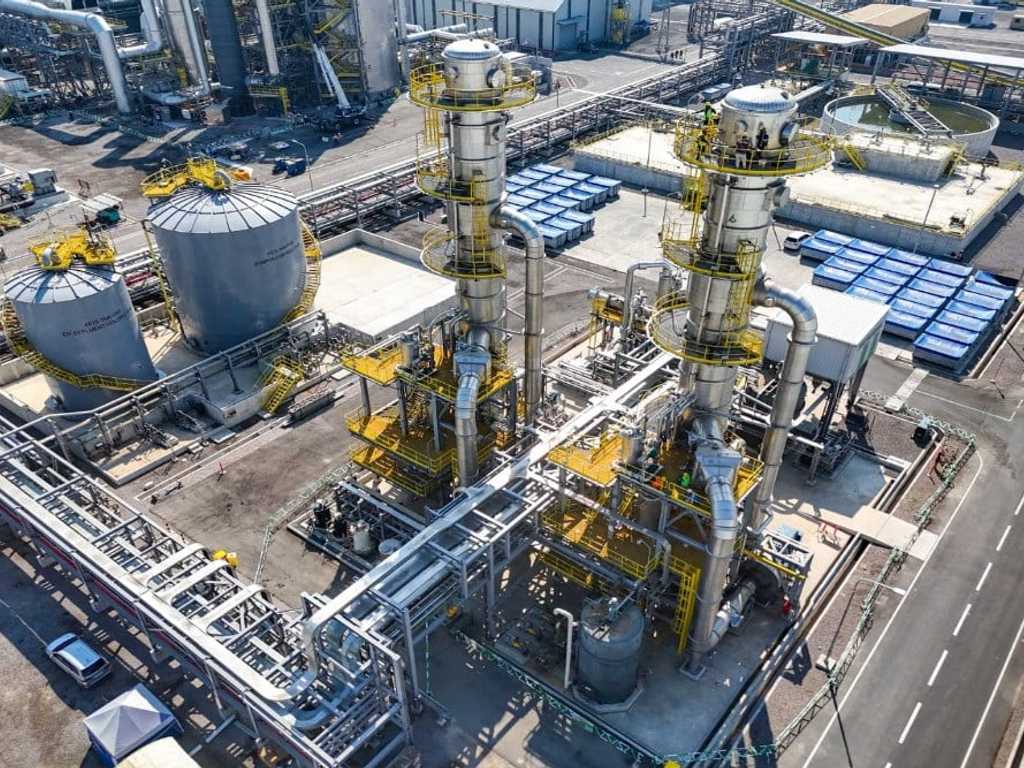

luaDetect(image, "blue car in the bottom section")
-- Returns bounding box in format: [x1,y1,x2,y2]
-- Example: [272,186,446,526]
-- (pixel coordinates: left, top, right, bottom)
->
[49,637,116,694]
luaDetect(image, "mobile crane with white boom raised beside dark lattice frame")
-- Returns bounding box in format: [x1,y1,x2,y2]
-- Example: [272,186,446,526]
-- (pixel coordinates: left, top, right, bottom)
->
[304,0,368,117]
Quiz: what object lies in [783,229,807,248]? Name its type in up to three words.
car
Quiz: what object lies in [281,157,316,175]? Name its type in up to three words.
vehicle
